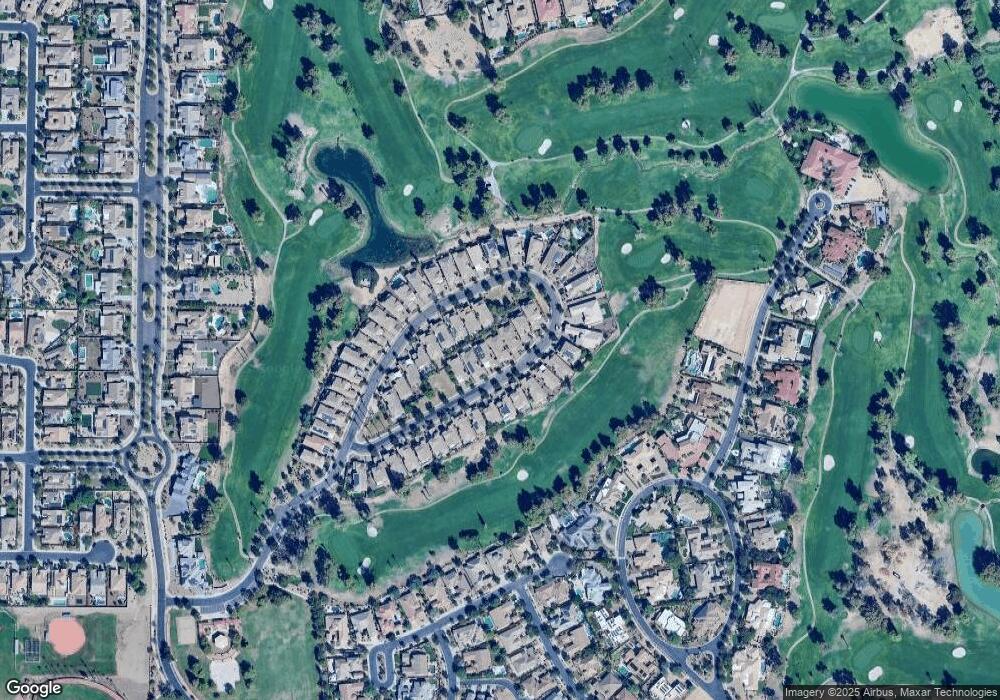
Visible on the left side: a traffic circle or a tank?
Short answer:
traffic circle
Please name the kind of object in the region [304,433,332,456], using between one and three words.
house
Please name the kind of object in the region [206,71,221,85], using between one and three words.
swimming pool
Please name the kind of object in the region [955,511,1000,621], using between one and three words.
pond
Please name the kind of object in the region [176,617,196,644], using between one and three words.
sports court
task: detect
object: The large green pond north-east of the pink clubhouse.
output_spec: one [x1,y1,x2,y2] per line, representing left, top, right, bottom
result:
[796,83,951,192]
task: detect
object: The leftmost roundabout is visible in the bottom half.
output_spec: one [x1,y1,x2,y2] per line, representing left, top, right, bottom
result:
[122,432,174,485]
